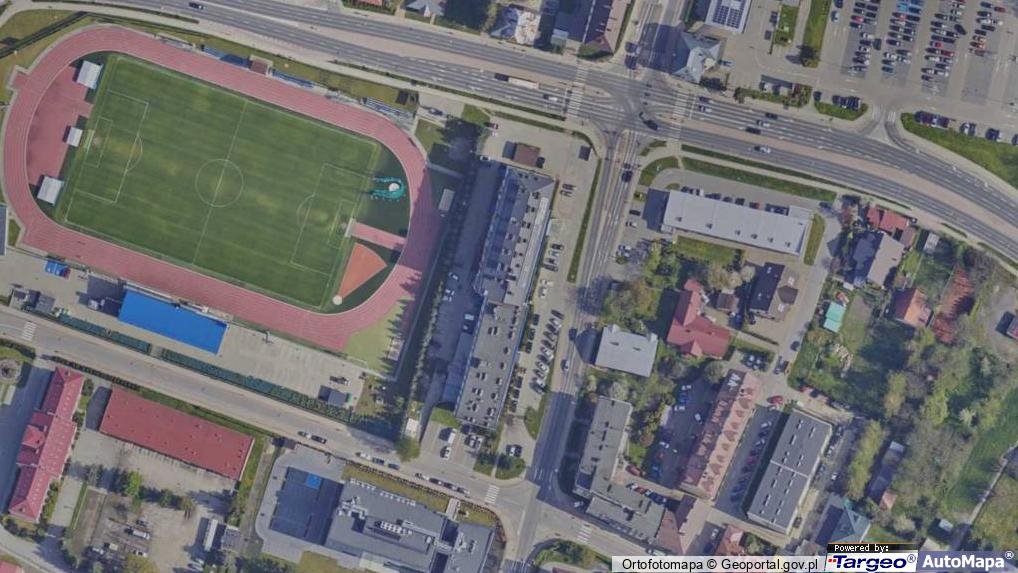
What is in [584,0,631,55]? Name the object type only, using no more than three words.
house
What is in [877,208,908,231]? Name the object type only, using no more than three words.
shed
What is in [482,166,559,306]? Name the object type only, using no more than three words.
building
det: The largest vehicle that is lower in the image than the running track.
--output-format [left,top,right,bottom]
[204,518,218,550]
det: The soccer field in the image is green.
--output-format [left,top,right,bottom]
[57,52,380,312]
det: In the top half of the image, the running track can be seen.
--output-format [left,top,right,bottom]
[0,25,439,352]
